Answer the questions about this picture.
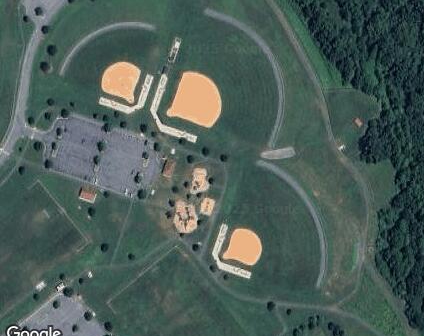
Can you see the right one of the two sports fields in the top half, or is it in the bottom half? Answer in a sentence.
Seen from above, the right one of the two sports fields lies in the bottom half of the view.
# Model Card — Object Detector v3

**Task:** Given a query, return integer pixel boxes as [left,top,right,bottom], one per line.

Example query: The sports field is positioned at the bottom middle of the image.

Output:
[108,246,239,336]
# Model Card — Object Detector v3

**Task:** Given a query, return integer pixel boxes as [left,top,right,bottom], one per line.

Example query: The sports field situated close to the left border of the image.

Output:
[0,180,90,286]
